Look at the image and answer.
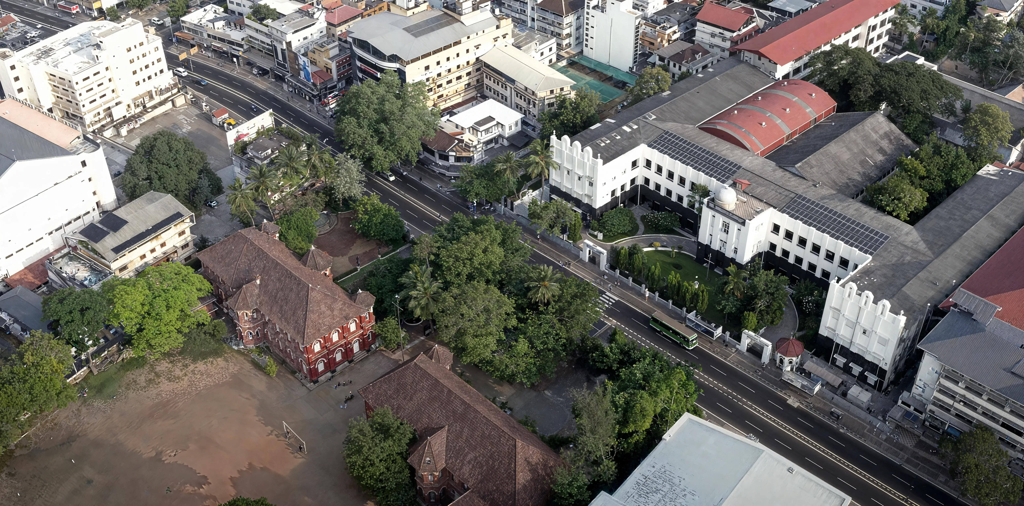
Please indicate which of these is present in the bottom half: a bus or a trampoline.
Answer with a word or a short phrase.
bus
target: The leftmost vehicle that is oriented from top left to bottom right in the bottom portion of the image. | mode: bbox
[650,311,699,348]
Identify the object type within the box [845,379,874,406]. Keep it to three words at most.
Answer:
building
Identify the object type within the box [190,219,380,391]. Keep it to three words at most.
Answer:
building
